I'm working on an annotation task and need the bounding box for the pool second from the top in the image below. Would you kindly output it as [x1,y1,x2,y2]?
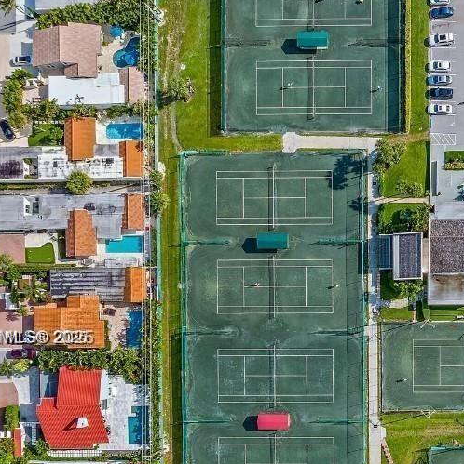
[104,119,146,142]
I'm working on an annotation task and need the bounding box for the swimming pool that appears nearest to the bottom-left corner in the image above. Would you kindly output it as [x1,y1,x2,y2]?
[126,404,145,446]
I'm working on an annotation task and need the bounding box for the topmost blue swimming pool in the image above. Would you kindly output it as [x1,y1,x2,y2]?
[111,34,144,68]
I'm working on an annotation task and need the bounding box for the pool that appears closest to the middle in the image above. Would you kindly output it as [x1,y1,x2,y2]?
[105,234,146,253]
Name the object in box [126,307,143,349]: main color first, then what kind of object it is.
blue swimming pool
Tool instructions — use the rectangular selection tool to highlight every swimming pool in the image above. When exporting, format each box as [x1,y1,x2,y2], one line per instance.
[126,307,143,349]
[126,404,145,446]
[104,119,146,142]
[111,34,144,68]
[105,234,146,253]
